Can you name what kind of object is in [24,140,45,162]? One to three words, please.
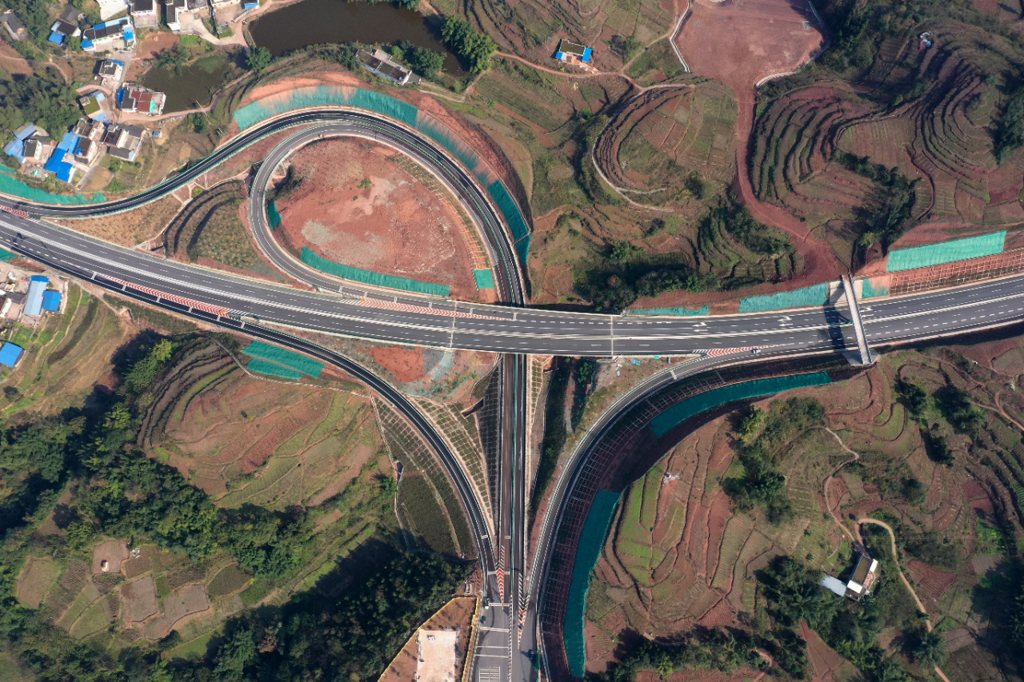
house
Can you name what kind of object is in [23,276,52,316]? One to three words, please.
shed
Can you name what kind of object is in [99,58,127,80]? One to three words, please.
house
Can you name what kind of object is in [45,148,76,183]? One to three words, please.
shed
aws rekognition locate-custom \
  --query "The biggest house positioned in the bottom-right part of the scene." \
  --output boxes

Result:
[844,553,878,602]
